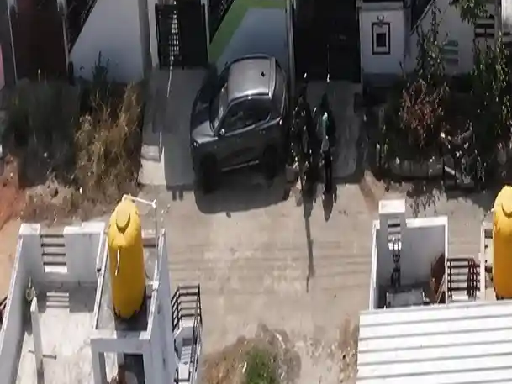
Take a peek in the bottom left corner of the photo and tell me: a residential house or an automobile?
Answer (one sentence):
What appears in the bottom left corner of the photo is a residential house.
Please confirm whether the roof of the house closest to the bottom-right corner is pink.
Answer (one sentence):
No, the roof of the house closest to the bottom-right corner is actually white.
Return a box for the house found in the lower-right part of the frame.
[351,208,512,384]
